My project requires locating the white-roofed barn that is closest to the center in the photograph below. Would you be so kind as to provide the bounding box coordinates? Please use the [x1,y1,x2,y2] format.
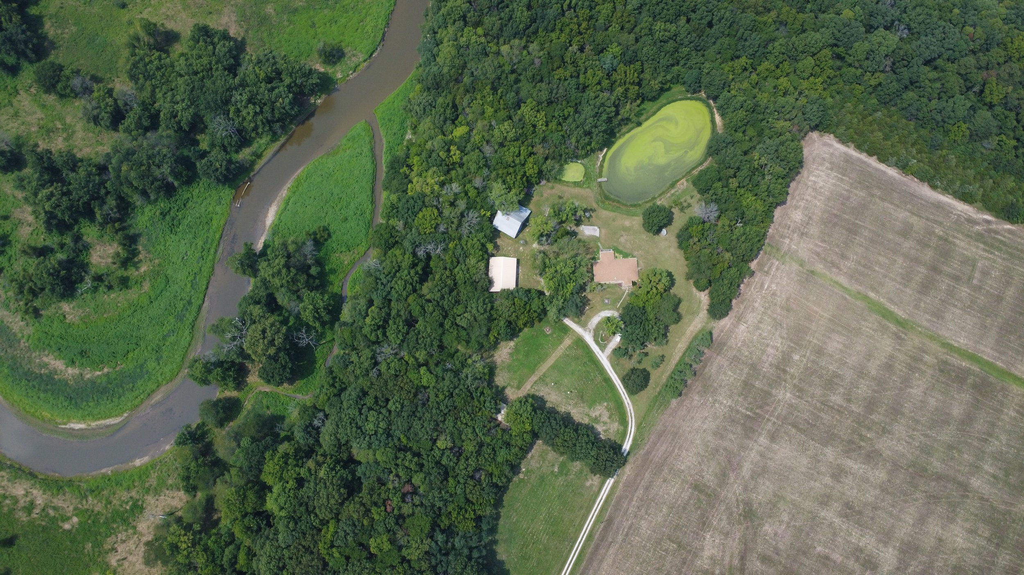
[488,257,515,292]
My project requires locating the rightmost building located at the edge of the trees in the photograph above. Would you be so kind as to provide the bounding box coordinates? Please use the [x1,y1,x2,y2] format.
[593,247,639,290]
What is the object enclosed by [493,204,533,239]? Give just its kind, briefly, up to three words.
barn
